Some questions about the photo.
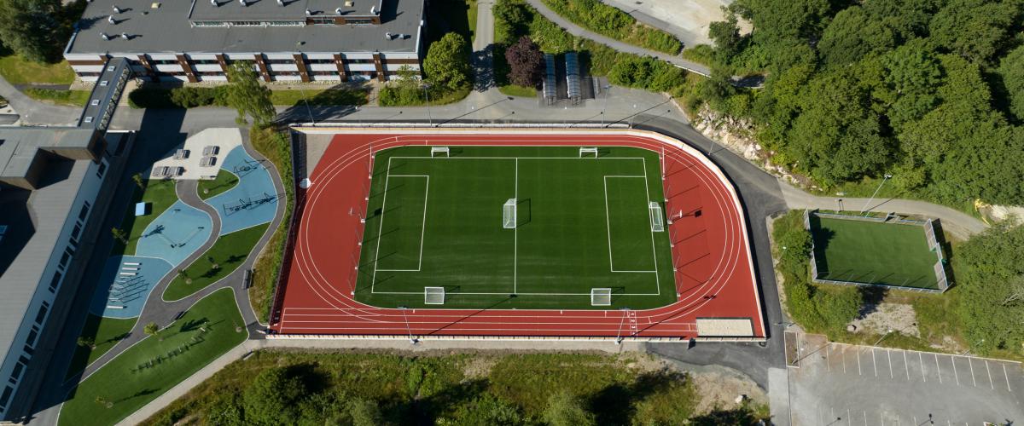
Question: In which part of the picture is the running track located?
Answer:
center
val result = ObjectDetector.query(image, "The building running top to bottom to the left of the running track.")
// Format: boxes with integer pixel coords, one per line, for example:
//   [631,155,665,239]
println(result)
[0,125,139,426]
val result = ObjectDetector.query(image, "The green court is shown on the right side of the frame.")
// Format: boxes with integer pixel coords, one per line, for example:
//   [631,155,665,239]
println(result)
[808,206,953,290]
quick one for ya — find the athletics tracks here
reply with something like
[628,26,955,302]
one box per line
[269,130,766,339]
